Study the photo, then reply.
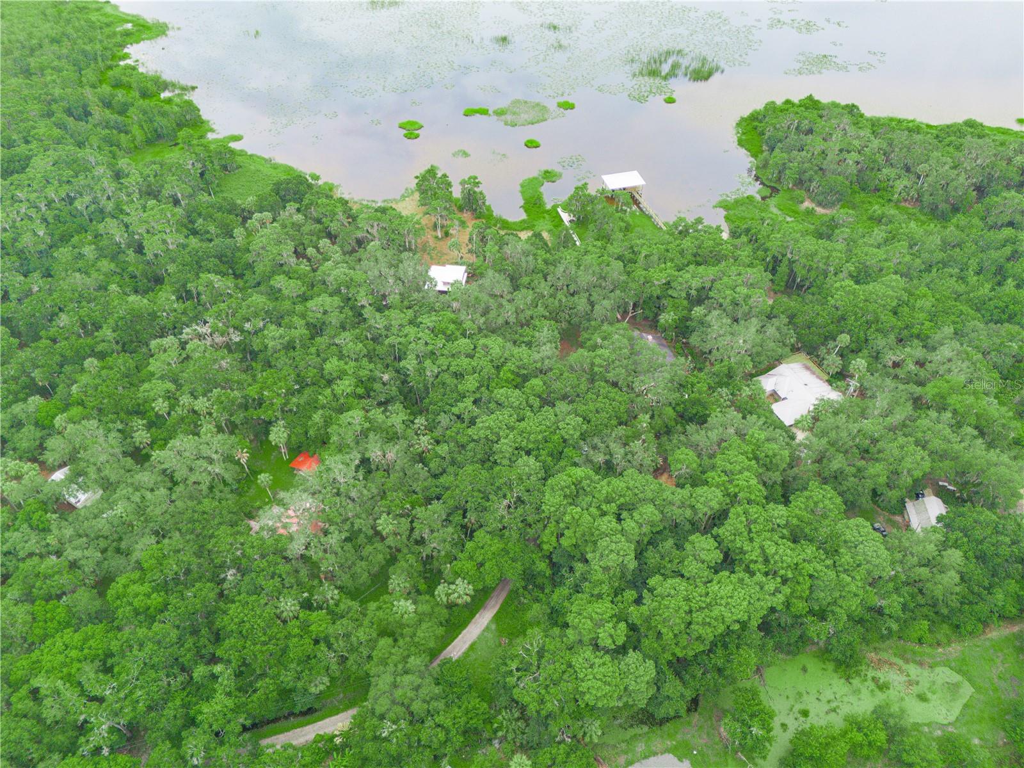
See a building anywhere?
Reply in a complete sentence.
Yes, there's a building down there.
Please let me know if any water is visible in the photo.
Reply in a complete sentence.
Yes, there's water in this view.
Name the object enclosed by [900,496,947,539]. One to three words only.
shed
